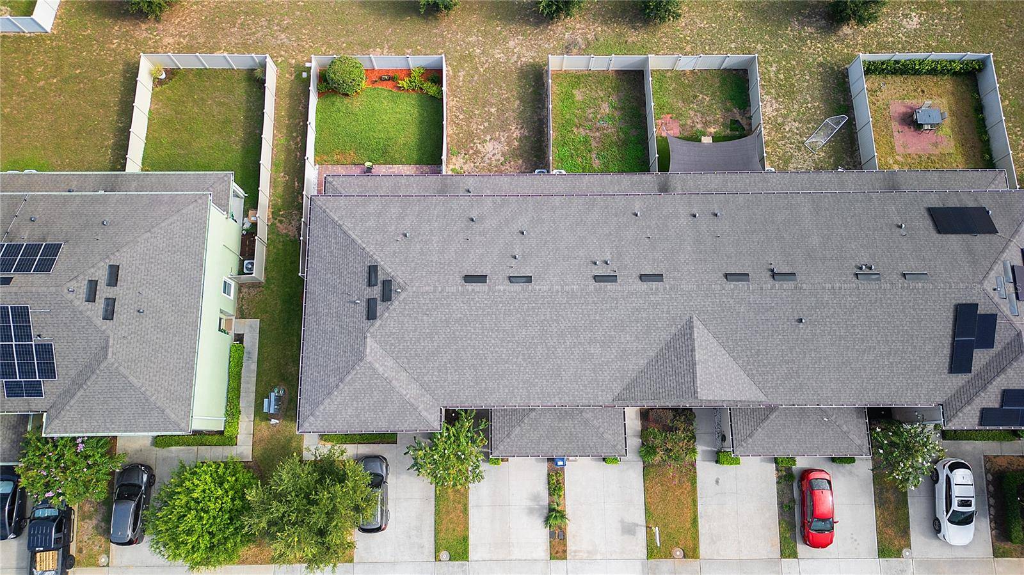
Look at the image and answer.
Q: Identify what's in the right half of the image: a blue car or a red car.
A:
red car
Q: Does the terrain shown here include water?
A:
No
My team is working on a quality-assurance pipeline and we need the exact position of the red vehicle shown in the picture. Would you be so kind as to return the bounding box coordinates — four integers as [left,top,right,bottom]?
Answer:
[796,471,839,547]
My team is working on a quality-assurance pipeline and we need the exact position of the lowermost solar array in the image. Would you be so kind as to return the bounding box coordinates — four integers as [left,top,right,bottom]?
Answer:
[979,390,1024,427]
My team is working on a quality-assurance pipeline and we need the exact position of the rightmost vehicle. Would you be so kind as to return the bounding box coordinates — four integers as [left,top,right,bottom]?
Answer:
[928,459,976,544]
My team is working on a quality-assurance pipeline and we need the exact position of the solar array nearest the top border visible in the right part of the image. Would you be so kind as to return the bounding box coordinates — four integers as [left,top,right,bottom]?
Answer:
[935,206,991,233]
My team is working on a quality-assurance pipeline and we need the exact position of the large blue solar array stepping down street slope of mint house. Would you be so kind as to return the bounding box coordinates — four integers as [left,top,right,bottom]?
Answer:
[0,306,59,399]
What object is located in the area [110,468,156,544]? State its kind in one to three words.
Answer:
car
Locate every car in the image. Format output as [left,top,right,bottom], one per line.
[928,459,976,544]
[0,467,28,542]
[796,471,839,547]
[354,457,390,531]
[110,468,156,544]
